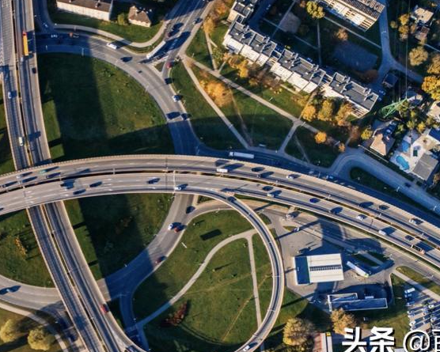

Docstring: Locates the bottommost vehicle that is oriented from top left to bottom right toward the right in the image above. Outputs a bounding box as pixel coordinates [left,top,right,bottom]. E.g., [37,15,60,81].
[347,261,369,278]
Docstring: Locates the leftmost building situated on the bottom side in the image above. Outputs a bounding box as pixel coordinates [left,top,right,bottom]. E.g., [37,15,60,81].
[291,256,312,284]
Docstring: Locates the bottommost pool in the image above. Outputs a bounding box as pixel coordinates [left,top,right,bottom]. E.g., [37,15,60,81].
[394,155,410,171]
